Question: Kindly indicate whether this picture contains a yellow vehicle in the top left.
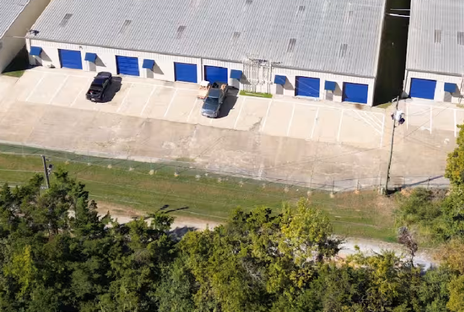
No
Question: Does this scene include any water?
No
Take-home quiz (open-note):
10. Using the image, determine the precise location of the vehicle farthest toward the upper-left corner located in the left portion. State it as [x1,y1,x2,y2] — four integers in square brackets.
[78,68,113,99]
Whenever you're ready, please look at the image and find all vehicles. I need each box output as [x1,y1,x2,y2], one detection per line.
[78,68,113,99]
[200,78,229,110]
